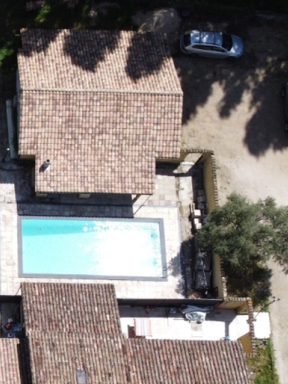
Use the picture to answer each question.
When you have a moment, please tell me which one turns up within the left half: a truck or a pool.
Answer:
pool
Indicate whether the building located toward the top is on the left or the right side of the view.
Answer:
left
